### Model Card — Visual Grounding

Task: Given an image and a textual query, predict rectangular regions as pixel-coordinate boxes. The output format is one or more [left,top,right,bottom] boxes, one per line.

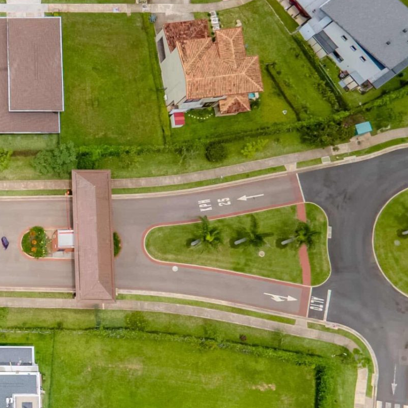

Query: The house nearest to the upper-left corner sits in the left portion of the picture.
[0,18,63,136]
